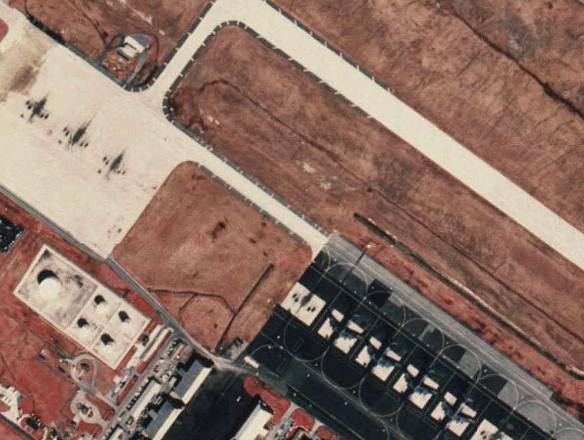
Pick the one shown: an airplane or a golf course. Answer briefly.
airplane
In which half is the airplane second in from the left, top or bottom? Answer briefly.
bottom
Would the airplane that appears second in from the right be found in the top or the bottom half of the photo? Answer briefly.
bottom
